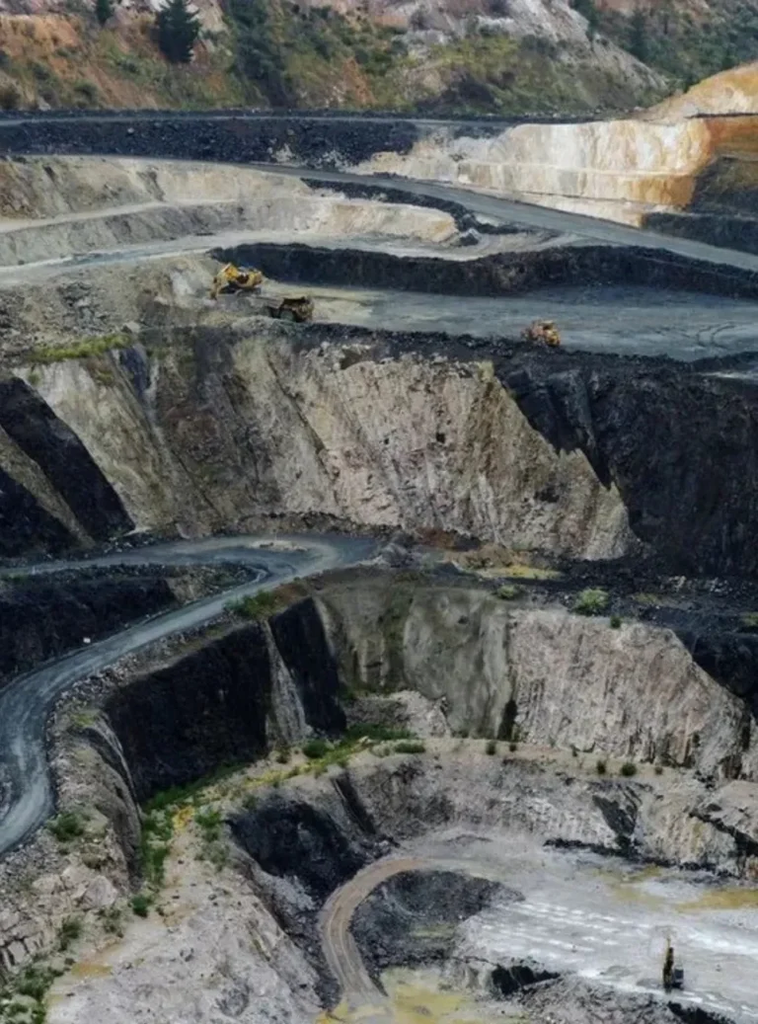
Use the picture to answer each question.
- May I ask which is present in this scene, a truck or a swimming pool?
truck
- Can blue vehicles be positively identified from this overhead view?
No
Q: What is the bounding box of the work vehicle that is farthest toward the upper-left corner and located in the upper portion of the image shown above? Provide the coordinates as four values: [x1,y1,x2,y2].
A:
[208,264,269,299]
